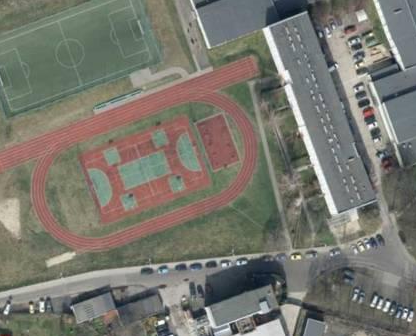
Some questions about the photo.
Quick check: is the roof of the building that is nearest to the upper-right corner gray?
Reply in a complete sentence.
Yes, the roof of the building that is nearest to the upper-right corner is gray.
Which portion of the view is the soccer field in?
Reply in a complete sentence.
The soccer field is located in the top left region of the scene.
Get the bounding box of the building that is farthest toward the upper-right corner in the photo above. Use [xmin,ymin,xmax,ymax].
[367,0,416,72]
